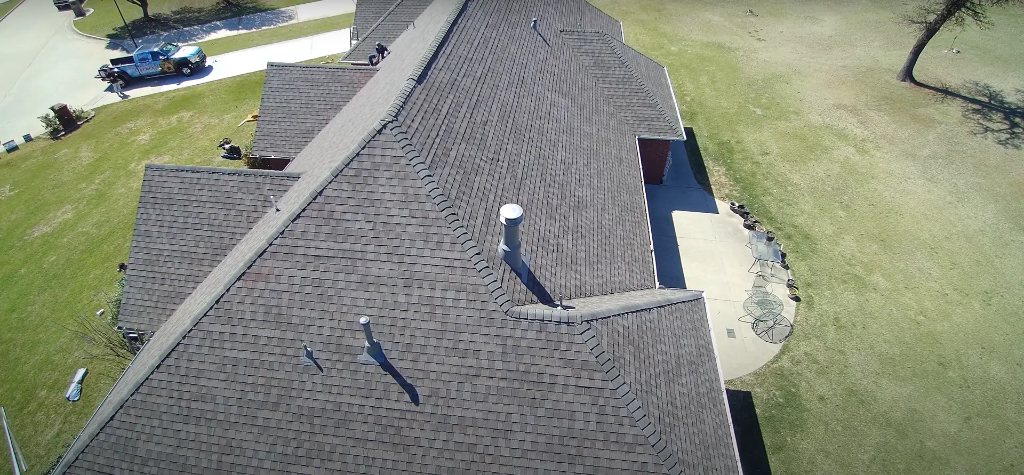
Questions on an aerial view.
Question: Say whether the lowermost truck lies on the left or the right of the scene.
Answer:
left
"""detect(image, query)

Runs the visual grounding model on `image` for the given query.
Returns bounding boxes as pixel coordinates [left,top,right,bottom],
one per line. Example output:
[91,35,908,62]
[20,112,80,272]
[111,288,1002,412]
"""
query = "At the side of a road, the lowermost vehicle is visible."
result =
[98,39,204,87]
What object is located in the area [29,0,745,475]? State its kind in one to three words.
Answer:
house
